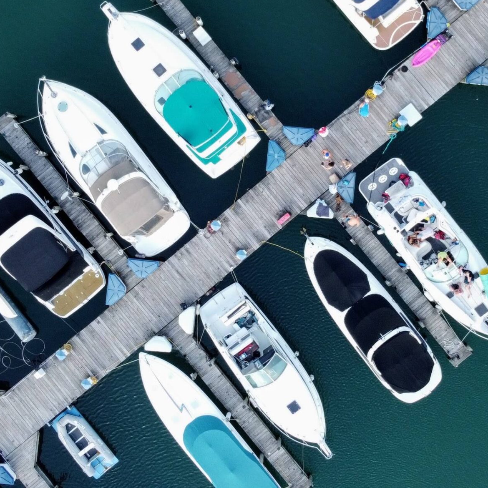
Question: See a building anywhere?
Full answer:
No, the picture doesn't show any building.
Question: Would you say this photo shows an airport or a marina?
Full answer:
What you see here is a marina.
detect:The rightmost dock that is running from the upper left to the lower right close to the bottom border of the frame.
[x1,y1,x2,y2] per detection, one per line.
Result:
[162,317,320,488]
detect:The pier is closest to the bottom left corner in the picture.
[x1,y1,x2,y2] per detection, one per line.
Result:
[6,431,56,488]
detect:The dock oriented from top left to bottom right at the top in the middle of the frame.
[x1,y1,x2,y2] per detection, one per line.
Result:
[153,0,300,161]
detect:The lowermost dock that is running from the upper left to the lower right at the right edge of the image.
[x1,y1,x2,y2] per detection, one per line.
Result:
[319,192,472,368]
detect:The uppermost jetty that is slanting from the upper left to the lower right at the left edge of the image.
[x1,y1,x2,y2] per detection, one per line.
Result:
[0,113,143,291]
